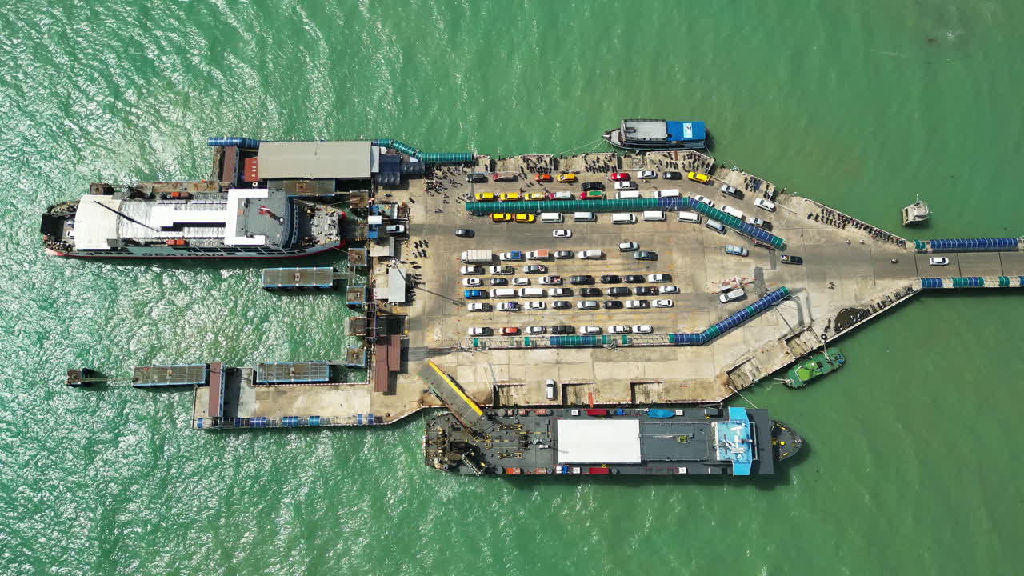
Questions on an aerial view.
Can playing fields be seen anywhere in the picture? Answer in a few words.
No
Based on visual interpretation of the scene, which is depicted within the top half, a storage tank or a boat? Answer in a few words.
boat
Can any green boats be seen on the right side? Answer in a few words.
Yes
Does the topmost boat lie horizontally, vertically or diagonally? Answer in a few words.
horizontally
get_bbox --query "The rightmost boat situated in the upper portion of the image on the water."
[602,119,708,150]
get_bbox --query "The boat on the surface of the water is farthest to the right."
[781,345,846,391]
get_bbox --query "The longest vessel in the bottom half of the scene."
[423,404,804,476]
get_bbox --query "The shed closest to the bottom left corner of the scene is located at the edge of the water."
[209,362,230,417]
